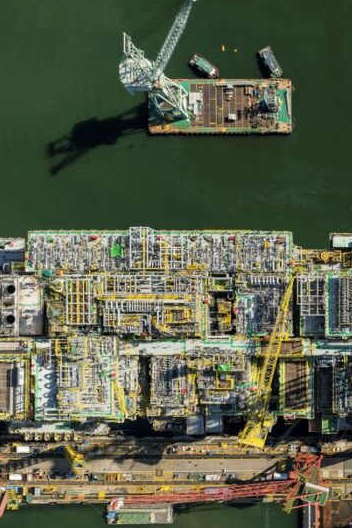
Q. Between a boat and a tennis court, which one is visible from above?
boat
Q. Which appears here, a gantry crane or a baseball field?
gantry crane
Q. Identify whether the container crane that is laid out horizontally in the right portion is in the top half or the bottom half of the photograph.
bottom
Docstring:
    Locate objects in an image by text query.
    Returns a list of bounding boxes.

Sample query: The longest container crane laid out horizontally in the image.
[110,451,337,512]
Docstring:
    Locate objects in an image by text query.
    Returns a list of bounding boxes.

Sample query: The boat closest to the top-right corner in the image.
[257,46,281,79]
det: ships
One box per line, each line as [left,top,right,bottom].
[0,227,352,440]
[107,497,173,525]
[148,79,293,135]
